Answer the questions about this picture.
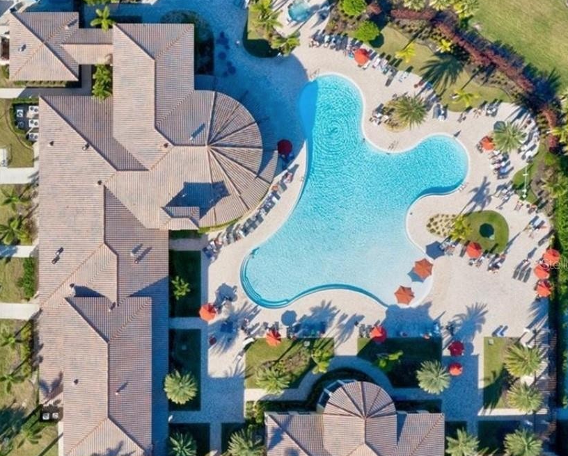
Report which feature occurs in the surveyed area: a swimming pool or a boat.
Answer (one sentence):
The one in the frame is a swimming pool.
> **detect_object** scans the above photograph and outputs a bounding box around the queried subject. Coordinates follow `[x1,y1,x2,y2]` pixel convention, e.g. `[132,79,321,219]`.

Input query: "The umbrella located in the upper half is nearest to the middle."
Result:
[275,138,293,157]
